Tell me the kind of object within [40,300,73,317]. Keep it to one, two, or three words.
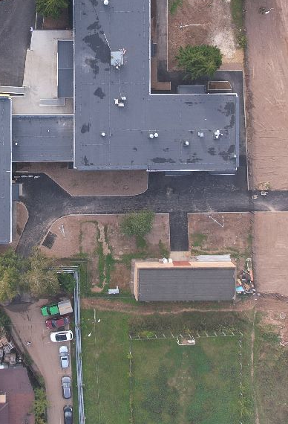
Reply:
vehicle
